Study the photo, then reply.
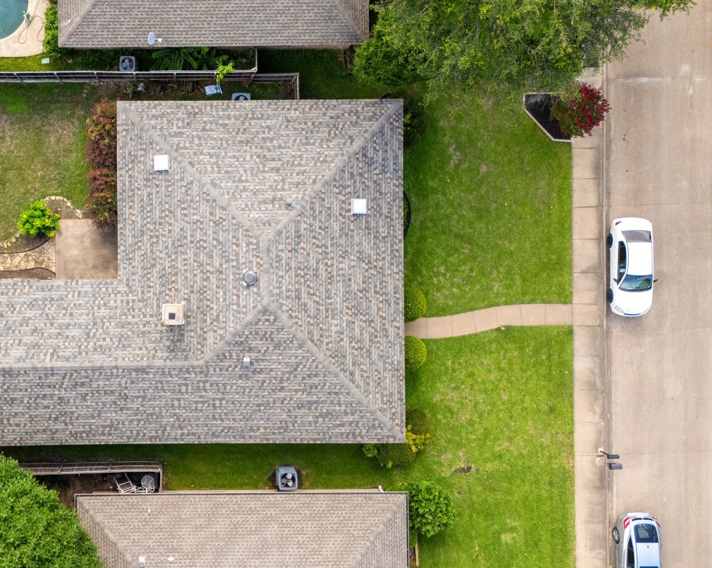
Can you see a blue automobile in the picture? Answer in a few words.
No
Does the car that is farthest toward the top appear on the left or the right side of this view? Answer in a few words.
right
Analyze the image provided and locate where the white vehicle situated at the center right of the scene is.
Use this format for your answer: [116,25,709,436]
[606,219,661,317]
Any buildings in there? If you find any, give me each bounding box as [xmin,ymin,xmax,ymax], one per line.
[57,0,370,56]
[72,484,411,568]
[0,99,406,447]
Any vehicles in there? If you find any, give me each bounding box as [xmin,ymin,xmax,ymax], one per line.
[606,219,661,317]
[610,509,662,568]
